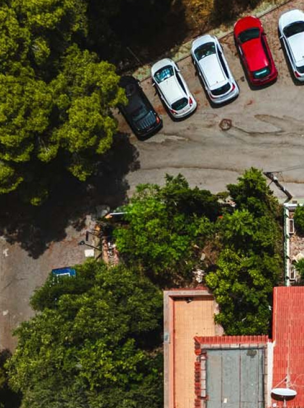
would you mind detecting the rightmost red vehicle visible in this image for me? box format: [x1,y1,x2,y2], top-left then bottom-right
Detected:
[234,16,279,88]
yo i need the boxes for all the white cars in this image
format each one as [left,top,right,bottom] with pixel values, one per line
[150,57,199,123]
[191,34,241,107]
[278,9,304,84]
